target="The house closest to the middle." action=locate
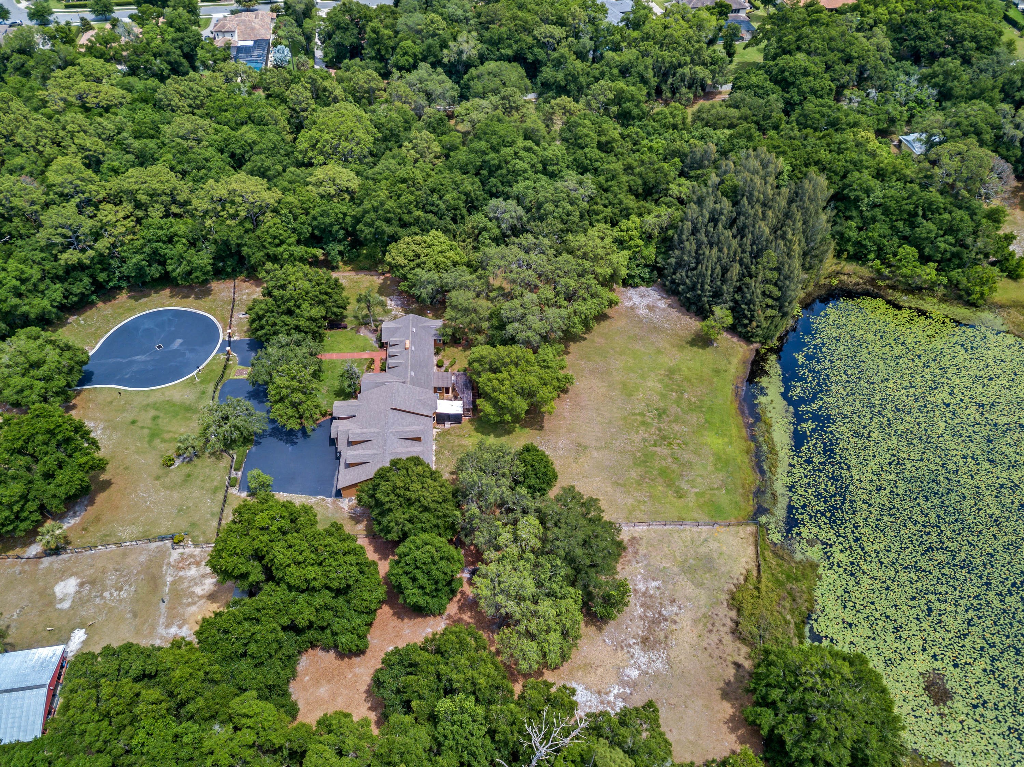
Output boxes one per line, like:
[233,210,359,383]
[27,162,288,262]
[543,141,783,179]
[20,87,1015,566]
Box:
[331,314,473,497]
